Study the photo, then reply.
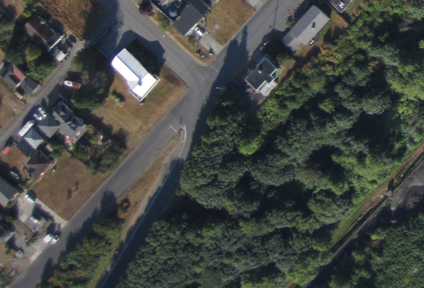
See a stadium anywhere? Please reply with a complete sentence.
No, I can't see a single stadium in this photo.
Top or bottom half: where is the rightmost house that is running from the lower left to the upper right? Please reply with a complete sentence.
It is in the top half that the rightmost house that is running from the lower left to the upper right appears.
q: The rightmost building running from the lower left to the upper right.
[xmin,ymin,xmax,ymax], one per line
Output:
[282,6,330,55]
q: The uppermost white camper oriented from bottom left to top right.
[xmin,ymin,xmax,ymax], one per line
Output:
[18,117,39,136]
